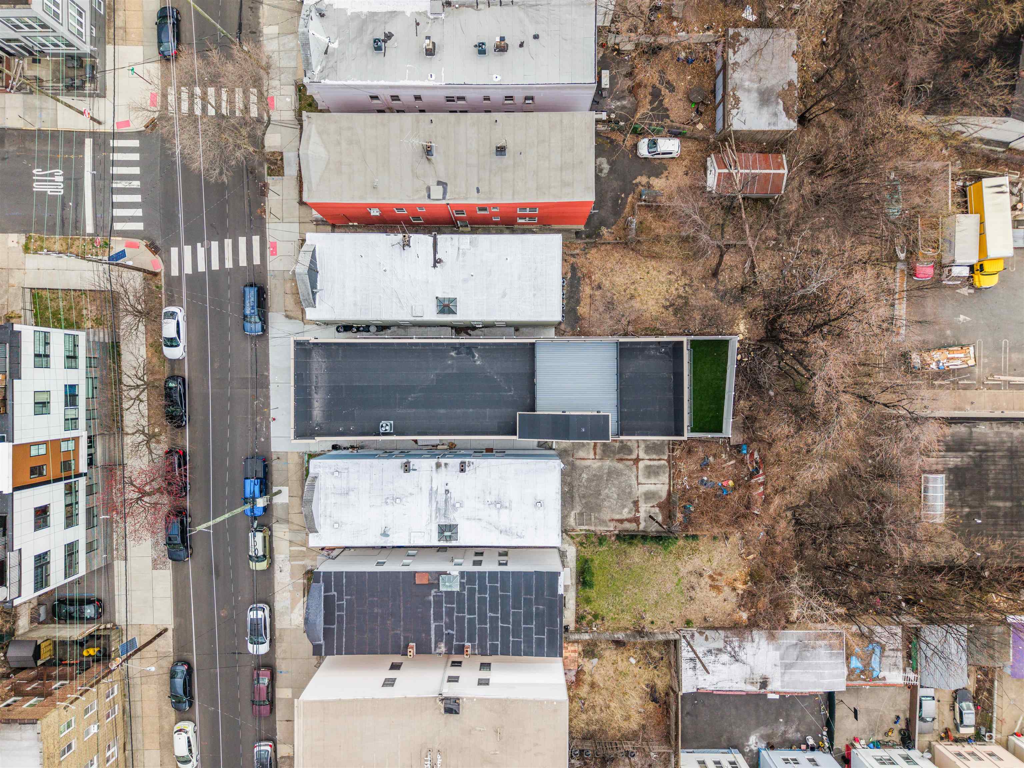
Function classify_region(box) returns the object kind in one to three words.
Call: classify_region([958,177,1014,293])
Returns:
truck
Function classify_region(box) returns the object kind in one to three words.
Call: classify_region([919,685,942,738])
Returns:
truck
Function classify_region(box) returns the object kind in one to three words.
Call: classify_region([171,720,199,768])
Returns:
car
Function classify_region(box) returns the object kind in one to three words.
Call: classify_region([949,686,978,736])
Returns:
car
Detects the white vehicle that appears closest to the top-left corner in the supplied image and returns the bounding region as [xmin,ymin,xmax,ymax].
[160,306,188,359]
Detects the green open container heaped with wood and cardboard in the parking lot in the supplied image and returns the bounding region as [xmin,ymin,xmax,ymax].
[906,344,980,372]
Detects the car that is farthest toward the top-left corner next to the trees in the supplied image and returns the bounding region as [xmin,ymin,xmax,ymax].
[155,7,183,61]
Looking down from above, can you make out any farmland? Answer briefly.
No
